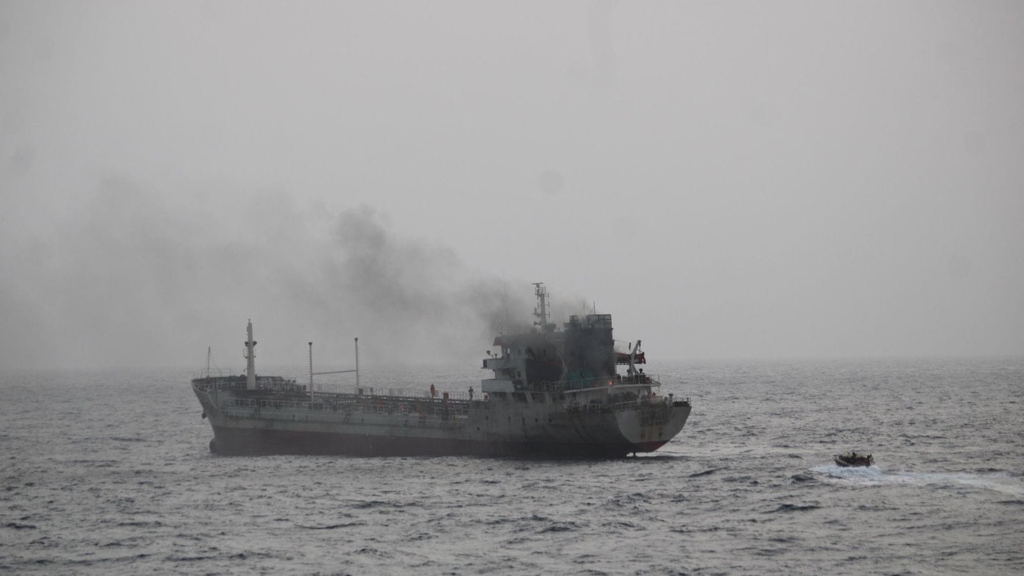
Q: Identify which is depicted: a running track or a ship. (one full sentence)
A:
The image shows a ship.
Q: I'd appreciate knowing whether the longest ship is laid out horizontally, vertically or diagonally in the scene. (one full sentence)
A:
The longest ship runs horizontally in the image.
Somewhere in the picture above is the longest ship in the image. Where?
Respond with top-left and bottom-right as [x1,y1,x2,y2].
[190,279,692,458]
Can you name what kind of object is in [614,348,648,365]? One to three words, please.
boat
